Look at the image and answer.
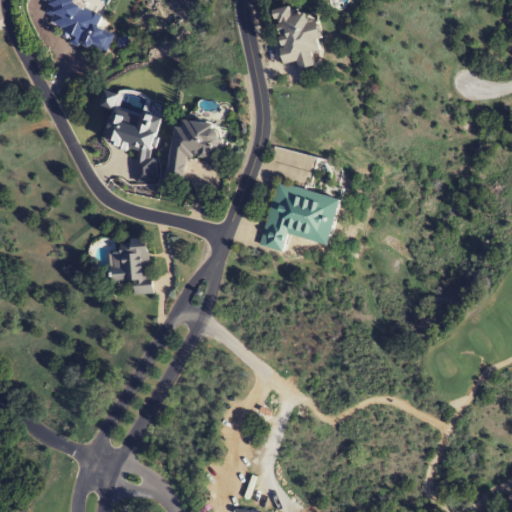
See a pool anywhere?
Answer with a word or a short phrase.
Yes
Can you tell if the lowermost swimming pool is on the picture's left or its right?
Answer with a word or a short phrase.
left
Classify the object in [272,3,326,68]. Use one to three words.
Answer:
house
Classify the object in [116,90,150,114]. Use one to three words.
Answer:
swimming pool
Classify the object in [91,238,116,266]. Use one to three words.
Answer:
swimming pool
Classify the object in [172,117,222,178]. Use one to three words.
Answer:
house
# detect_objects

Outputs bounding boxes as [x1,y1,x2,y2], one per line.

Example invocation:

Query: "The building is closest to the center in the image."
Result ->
[260,184,342,252]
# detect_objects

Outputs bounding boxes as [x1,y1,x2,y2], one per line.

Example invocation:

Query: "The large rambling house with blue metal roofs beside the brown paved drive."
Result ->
[46,0,116,50]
